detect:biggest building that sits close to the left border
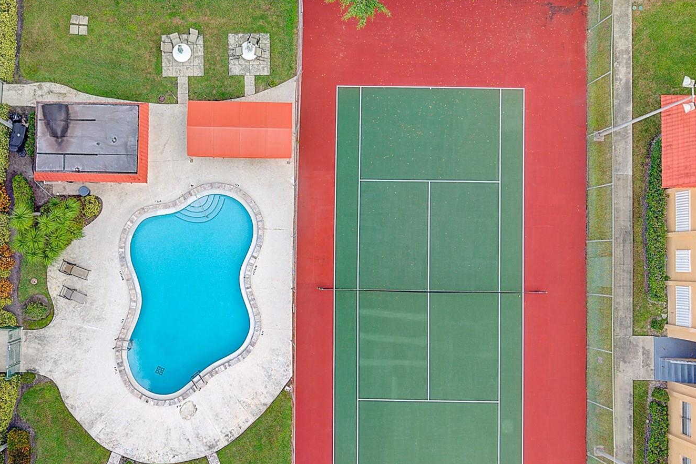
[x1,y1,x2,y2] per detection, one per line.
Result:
[34,101,148,182]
